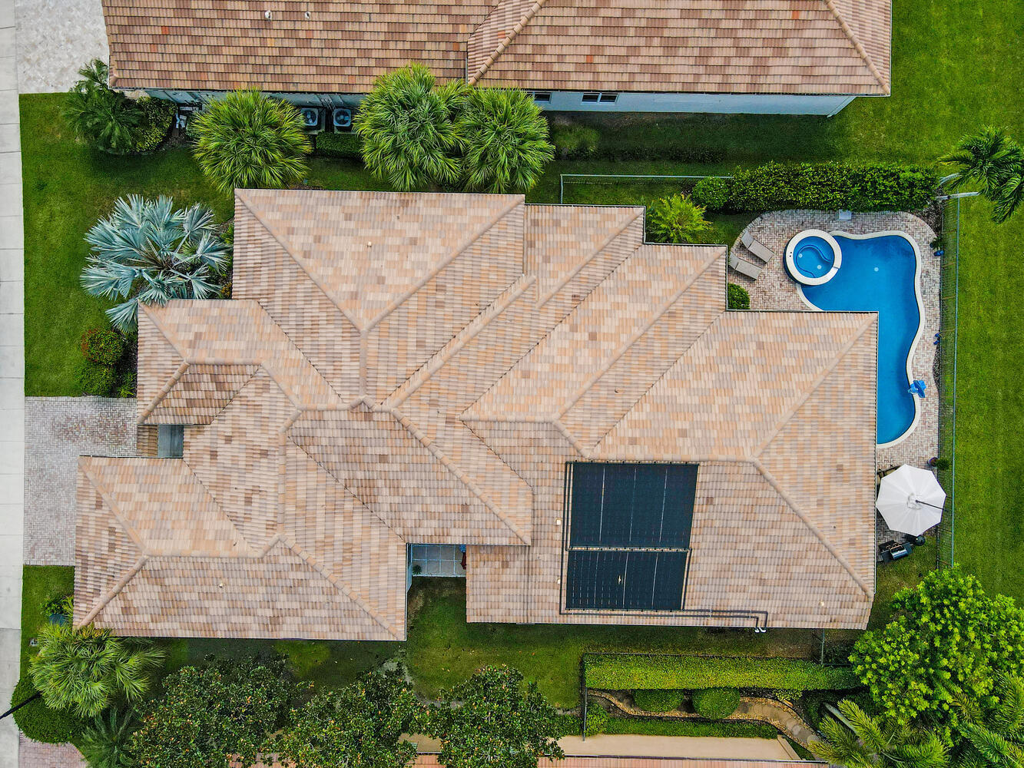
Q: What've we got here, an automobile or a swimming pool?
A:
swimming pool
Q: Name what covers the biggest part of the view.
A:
buildings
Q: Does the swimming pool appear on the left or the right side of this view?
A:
right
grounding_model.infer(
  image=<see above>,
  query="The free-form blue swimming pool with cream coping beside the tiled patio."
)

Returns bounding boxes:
[799,228,927,449]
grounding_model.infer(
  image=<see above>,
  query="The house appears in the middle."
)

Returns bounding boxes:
[73,186,882,643]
